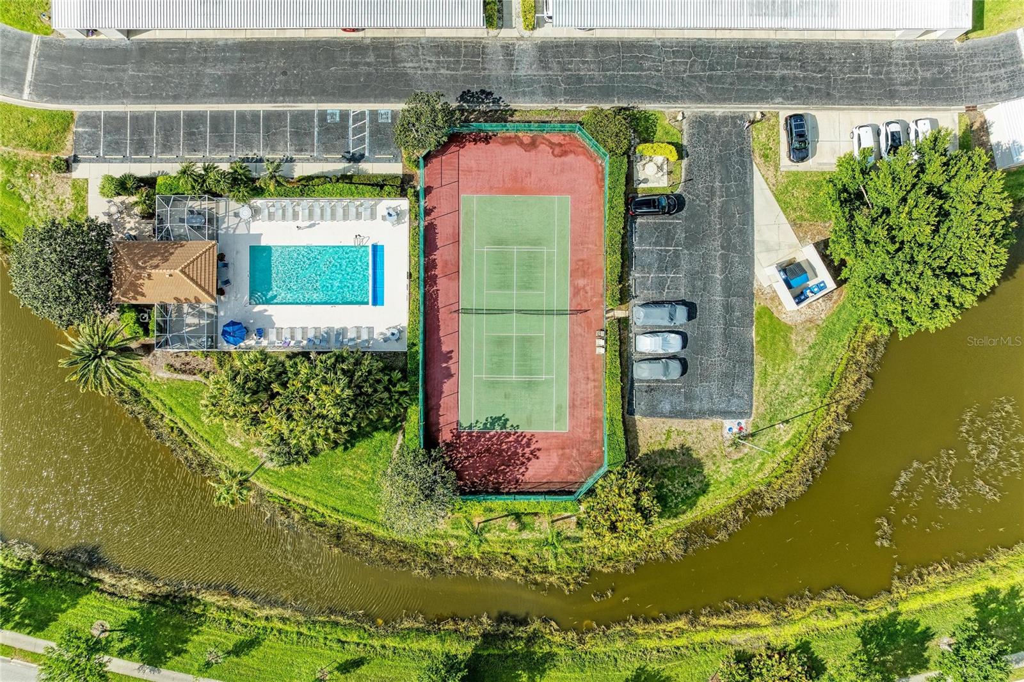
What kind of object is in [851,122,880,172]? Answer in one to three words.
car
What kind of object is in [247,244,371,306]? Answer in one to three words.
swimming pool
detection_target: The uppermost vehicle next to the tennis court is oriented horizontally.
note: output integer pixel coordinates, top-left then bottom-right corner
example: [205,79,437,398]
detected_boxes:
[628,192,678,215]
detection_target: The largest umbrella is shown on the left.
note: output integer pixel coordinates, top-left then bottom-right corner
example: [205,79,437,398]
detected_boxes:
[223,321,248,346]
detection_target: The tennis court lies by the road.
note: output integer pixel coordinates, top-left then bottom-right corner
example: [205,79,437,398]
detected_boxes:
[424,132,605,497]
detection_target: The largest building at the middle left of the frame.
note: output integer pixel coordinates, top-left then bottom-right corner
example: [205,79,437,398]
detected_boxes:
[111,239,224,305]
